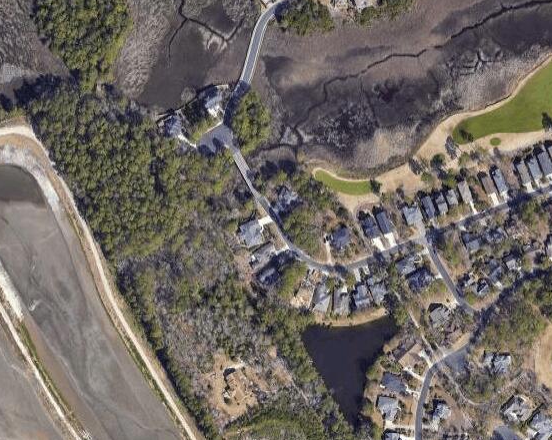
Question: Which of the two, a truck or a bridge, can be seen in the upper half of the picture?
bridge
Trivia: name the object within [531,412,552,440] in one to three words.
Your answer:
house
